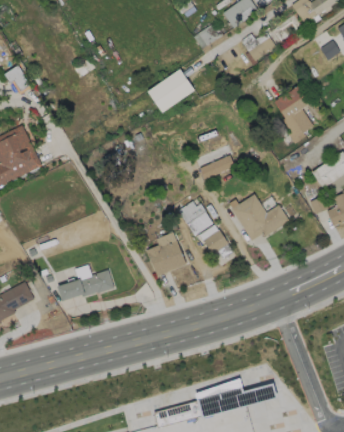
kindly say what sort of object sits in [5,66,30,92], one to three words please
building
